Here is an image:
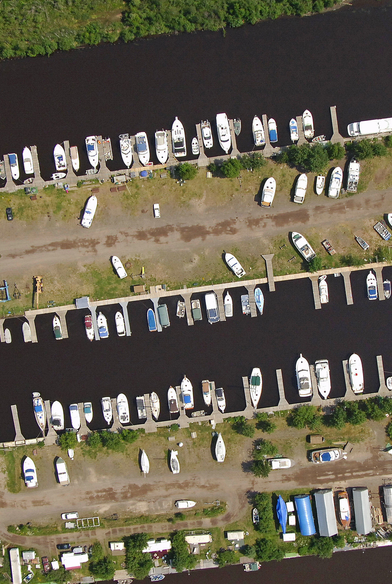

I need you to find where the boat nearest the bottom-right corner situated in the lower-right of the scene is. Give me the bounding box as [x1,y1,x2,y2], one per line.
[337,491,352,529]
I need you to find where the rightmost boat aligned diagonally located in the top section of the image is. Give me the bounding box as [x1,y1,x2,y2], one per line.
[374,222,392,241]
